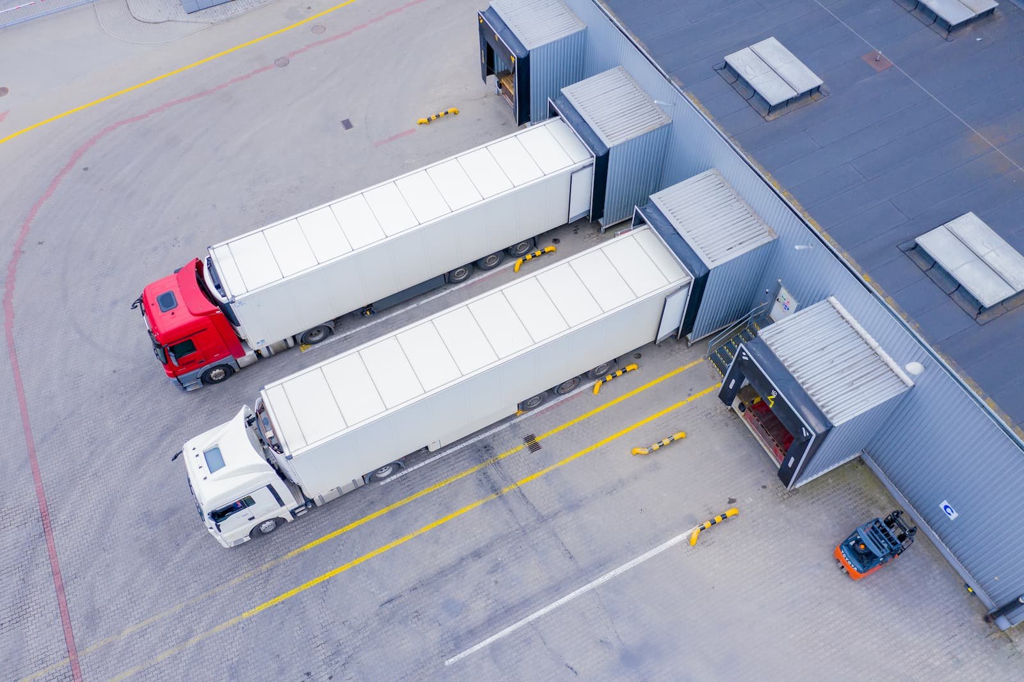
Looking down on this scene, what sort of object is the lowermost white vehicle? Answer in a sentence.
The lowermost white vehicle appears to be a truck.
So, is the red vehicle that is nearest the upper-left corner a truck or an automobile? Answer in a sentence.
Specifically, the red vehicle that is nearest the upper-left corner is a truck.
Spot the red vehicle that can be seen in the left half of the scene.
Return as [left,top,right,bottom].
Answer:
[134,257,333,390]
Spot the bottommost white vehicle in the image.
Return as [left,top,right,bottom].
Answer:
[175,407,400,547]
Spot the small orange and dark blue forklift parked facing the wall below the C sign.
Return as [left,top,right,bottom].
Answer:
[830,507,921,582]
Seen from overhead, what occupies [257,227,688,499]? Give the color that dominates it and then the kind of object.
white trailer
